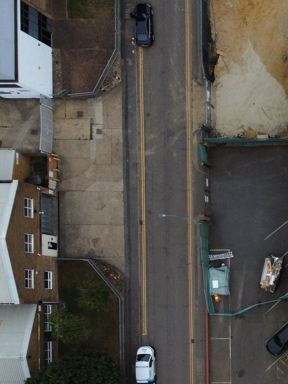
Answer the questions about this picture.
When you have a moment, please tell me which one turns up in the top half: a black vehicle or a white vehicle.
black vehicle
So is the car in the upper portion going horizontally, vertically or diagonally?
vertically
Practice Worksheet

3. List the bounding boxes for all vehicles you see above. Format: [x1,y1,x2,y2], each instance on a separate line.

[266,324,288,354]
[134,346,158,384]
[135,3,158,48]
